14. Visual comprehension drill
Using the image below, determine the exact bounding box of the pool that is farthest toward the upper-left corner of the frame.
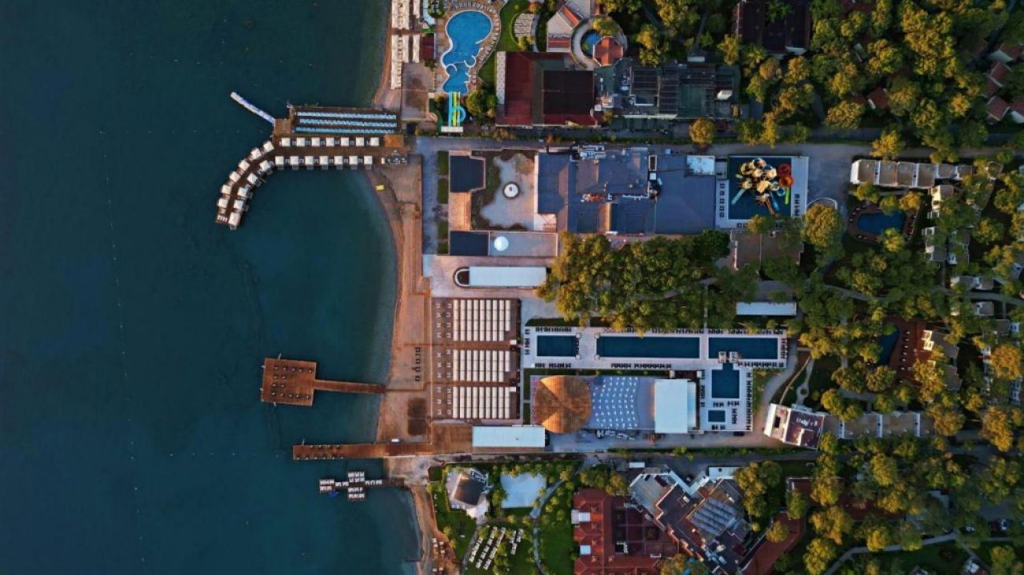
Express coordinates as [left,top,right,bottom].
[440,9,493,93]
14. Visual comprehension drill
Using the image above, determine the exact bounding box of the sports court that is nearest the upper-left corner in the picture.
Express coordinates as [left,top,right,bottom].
[401,64,428,117]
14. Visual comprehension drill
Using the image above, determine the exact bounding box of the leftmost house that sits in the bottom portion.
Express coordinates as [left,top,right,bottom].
[446,468,491,518]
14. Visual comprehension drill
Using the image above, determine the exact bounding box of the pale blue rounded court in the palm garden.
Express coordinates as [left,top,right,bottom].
[501,474,546,508]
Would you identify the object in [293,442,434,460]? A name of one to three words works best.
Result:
pier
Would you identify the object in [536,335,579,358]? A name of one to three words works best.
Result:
swimming pool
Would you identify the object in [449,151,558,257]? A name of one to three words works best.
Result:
building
